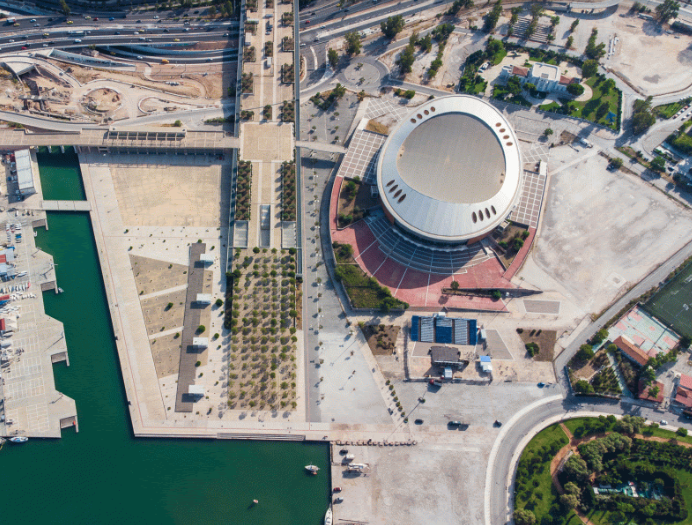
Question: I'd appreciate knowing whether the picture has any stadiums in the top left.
No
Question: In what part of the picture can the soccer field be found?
right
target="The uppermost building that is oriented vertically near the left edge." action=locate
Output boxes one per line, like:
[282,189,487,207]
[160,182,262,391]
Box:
[15,149,39,195]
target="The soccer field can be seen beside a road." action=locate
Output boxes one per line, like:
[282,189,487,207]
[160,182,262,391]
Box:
[644,261,692,341]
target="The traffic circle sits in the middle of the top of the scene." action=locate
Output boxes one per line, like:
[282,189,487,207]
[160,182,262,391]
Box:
[343,61,380,84]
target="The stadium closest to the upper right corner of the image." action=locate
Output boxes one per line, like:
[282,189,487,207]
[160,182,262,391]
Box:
[370,95,523,251]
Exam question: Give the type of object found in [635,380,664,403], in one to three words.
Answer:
house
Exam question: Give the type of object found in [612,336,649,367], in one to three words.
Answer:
building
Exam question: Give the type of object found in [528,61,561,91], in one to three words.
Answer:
house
